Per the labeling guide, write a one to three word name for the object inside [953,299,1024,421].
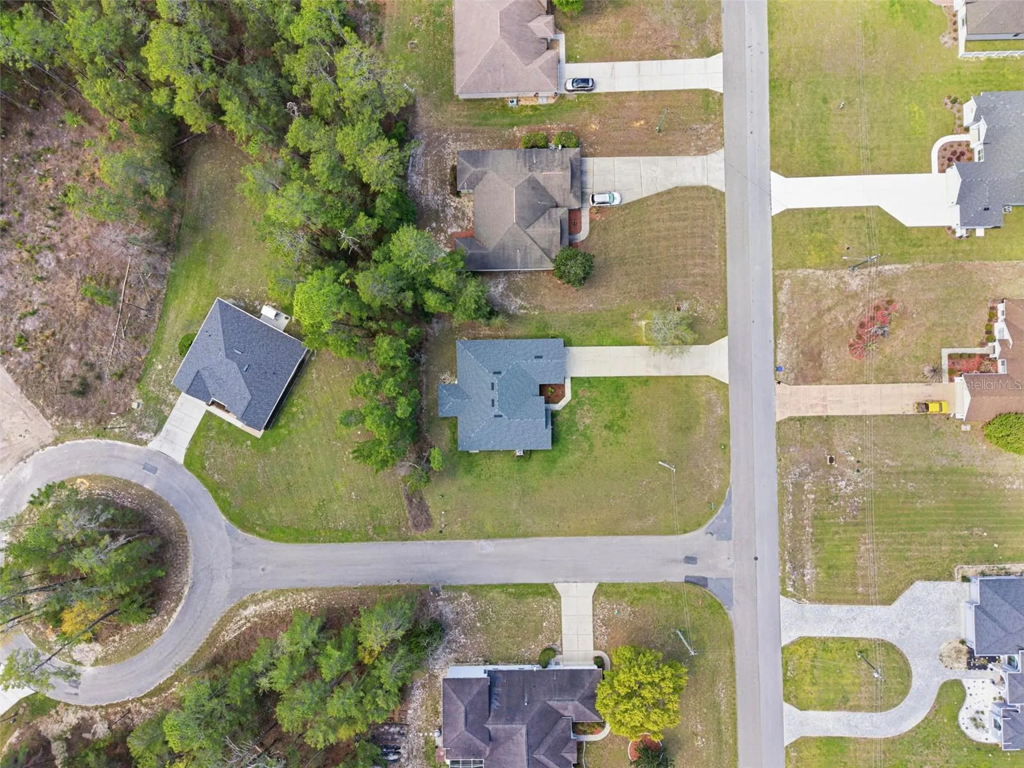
house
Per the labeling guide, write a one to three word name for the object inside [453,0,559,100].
house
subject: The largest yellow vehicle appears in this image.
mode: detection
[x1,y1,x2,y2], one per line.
[914,400,948,414]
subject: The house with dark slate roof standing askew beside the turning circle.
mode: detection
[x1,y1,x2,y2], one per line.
[171,298,311,432]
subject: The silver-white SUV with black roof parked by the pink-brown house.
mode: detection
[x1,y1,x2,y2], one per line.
[565,76,594,93]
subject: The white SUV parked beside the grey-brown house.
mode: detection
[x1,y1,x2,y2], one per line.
[590,191,621,207]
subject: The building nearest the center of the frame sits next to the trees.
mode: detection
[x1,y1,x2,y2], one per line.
[437,338,565,452]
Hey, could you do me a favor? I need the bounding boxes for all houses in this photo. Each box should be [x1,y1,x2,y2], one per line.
[442,660,603,768]
[171,298,311,432]
[453,0,559,100]
[953,299,1024,421]
[437,338,565,452]
[944,91,1024,230]
[455,146,582,273]
[946,0,1024,40]
[964,576,1024,751]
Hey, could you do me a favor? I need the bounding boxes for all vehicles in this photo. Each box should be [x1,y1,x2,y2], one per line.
[914,400,948,414]
[590,191,621,207]
[565,76,594,93]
